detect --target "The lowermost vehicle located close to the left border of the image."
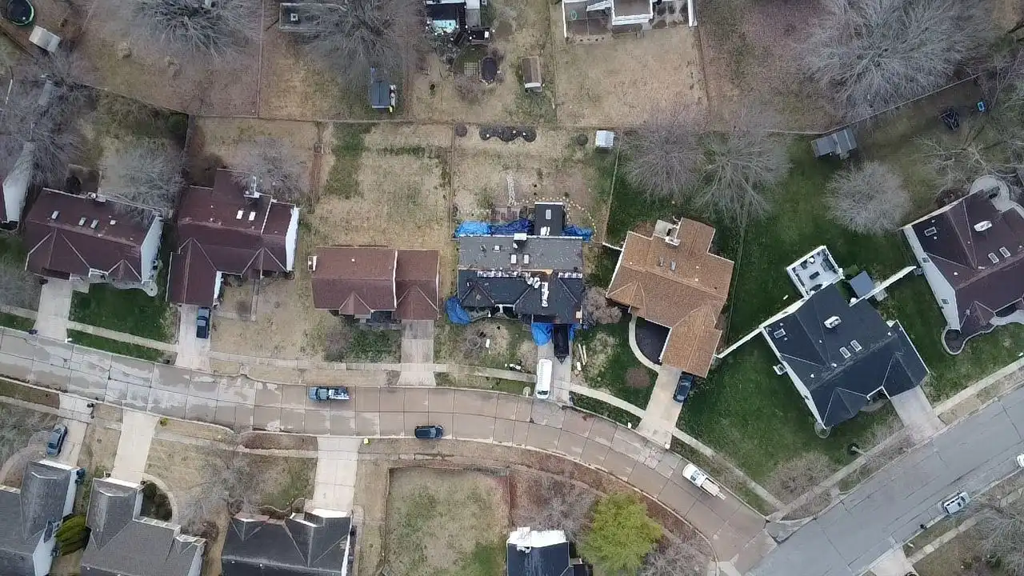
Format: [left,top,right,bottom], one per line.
[45,423,69,457]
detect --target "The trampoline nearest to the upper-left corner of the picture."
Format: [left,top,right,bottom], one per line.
[2,0,38,26]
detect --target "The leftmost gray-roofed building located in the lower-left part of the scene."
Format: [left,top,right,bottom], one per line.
[0,456,81,576]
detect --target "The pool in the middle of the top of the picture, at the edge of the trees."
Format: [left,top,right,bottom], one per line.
[433,20,457,37]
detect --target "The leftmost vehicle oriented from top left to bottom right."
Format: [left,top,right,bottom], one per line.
[682,465,720,496]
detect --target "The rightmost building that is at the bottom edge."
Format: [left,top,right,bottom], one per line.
[506,527,590,576]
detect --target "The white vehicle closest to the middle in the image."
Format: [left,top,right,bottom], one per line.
[535,358,552,399]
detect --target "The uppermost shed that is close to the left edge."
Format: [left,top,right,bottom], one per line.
[29,26,63,53]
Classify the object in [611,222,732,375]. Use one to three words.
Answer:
house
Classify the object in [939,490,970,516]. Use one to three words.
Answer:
car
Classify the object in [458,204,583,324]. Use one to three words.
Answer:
house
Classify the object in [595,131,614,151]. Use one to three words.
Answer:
shed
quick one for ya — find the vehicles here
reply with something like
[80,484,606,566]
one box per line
[45,423,69,457]
[939,490,970,516]
[1013,450,1024,466]
[415,425,443,439]
[672,372,692,402]
[682,465,720,496]
[310,386,351,401]
[195,306,213,339]
[904,571,917,576]
[535,358,552,399]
